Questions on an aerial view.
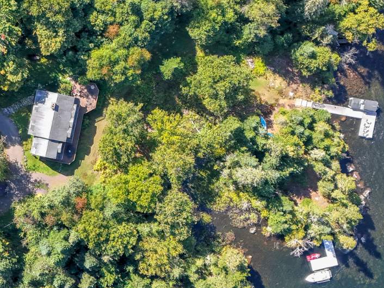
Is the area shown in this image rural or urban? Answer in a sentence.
It looks rural.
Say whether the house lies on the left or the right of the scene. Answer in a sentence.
It is on the left.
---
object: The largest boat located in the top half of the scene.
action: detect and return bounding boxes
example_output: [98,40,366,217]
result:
[349,98,381,112]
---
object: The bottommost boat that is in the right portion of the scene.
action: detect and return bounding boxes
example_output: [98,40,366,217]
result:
[307,268,334,283]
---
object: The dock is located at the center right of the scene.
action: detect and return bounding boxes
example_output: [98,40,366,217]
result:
[324,103,376,138]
